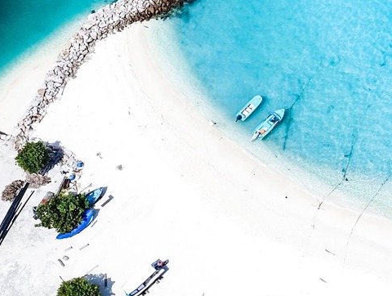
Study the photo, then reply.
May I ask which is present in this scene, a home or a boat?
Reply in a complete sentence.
This aerial view contains a boat.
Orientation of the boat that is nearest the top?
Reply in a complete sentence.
The boat that is nearest the top is oriented at an angle.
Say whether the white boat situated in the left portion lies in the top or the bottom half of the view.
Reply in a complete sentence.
The white boat situated in the left portion sits in the bottom half of the picture.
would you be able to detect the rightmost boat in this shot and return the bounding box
[249,109,286,147]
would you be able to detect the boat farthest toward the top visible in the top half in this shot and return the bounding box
[229,97,261,126]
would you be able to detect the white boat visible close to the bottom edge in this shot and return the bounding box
[126,259,168,296]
